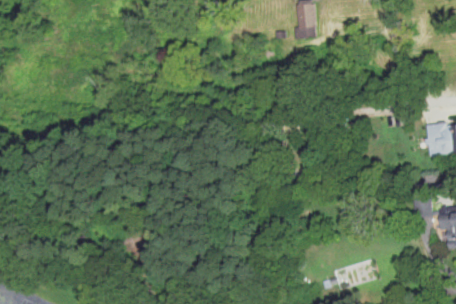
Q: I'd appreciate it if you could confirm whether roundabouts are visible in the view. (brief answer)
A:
No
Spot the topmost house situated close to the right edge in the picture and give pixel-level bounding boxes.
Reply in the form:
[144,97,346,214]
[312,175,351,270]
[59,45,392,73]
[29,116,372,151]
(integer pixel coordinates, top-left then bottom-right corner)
[424,122,454,156]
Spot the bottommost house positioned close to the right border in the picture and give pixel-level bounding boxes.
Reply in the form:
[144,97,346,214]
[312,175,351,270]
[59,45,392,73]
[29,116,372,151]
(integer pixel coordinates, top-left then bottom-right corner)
[439,206,456,248]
